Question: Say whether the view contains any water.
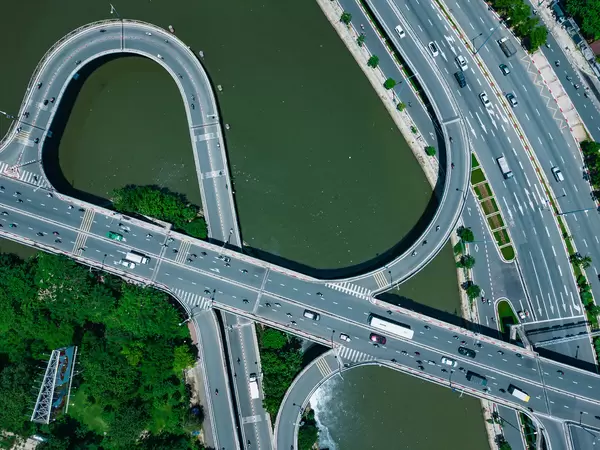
Yes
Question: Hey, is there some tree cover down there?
Yes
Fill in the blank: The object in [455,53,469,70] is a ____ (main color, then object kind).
white car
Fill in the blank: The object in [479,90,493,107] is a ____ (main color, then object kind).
white car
